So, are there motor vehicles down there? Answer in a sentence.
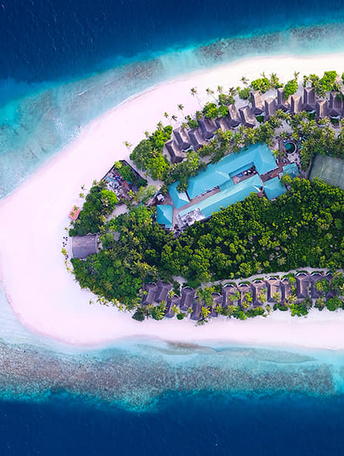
No, this view has no motor vehicle in it.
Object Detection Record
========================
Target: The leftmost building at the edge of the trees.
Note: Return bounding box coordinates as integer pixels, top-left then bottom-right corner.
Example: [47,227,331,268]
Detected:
[70,234,98,257]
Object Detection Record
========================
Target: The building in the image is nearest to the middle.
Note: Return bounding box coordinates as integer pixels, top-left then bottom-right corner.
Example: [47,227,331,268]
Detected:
[157,205,173,227]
